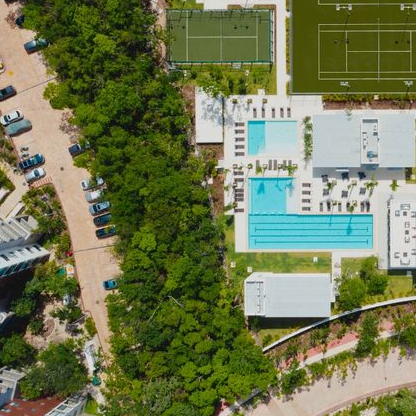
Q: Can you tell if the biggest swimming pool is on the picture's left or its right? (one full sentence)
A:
It is on the right.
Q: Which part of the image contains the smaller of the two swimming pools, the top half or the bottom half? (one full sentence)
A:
The top half of the photo is where the smaller of the two swimming pools is.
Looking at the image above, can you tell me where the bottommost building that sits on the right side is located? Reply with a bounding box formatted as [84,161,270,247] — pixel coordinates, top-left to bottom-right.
[245,272,332,318]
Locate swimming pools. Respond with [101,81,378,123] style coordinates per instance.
[247,176,374,250]
[246,120,299,156]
